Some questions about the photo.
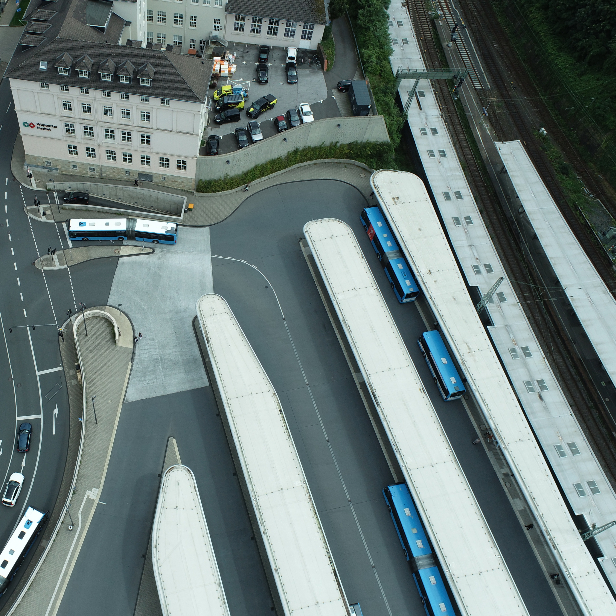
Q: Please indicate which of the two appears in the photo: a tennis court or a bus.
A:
bus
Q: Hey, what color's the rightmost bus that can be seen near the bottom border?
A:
blue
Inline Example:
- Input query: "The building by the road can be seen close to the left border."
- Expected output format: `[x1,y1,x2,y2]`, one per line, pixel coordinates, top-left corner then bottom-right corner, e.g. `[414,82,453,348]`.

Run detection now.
[3,0,219,190]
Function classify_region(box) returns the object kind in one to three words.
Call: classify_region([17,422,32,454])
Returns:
car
